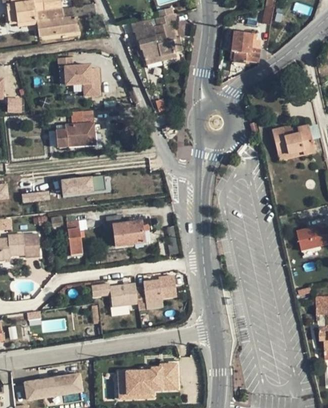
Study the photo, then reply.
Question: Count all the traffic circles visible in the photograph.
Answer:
1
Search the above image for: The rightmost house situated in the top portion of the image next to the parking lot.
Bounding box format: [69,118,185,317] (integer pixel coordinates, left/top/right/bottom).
[270,124,320,162]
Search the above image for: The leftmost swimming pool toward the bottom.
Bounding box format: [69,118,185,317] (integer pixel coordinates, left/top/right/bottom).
[14,278,36,295]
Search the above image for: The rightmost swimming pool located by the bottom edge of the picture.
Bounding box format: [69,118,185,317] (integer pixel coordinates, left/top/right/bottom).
[104,372,118,402]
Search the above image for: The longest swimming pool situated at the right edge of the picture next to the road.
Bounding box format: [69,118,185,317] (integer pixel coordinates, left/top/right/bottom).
[291,1,313,17]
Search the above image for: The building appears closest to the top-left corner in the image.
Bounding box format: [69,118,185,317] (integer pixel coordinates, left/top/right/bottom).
[0,0,80,42]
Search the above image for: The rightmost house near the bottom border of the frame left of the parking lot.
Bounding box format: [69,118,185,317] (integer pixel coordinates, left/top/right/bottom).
[118,361,180,400]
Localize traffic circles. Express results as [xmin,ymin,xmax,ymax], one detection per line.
[188,92,240,149]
